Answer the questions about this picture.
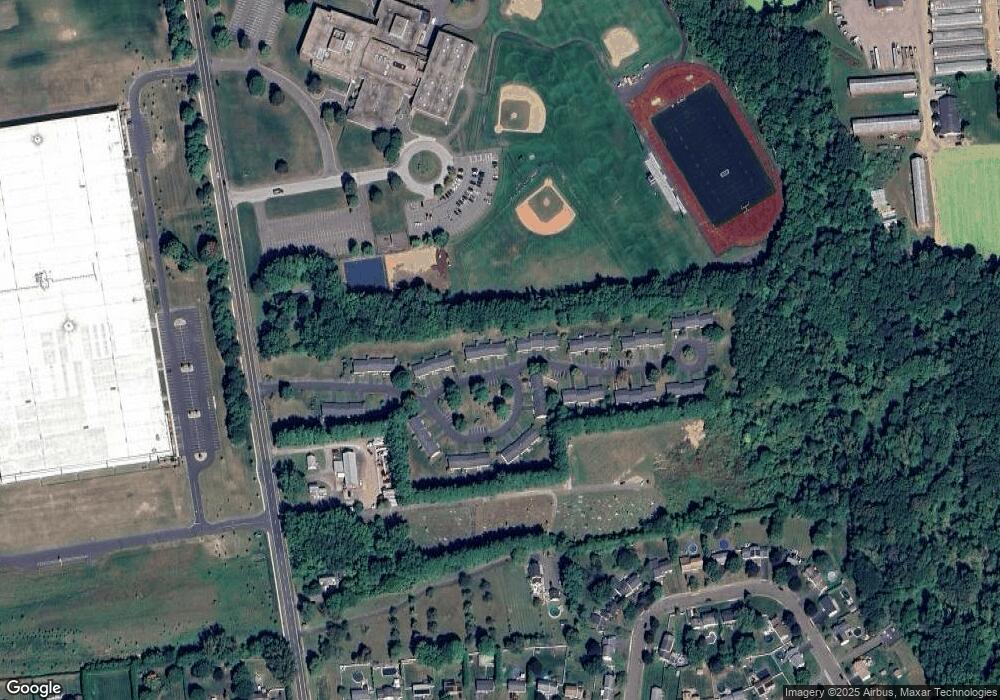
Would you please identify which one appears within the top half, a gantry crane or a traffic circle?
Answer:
traffic circle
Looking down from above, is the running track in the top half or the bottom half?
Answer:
top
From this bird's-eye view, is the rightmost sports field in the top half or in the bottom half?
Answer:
top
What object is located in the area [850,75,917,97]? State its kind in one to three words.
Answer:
shed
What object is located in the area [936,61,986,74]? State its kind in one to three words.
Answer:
greenhouse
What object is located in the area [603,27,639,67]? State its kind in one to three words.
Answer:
baseball field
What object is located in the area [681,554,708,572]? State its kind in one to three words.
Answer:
house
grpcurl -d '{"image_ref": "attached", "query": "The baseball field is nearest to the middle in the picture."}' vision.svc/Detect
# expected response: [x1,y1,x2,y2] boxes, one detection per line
[516,178,575,235]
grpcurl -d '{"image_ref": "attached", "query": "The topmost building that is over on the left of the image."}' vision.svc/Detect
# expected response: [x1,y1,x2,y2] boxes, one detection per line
[300,0,477,132]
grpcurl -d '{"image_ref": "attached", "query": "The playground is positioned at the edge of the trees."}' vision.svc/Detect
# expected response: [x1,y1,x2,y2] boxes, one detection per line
[386,247,449,296]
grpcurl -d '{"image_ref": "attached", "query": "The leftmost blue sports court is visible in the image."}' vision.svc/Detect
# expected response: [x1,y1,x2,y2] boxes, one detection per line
[344,257,388,293]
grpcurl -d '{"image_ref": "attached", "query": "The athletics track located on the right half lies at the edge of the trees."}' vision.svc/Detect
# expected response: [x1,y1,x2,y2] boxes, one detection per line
[626,62,783,256]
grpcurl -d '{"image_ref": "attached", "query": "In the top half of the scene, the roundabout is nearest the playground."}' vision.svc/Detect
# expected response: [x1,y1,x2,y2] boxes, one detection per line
[399,140,453,193]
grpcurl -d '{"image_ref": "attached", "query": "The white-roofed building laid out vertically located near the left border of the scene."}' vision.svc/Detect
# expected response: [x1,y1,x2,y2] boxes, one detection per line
[0,110,175,482]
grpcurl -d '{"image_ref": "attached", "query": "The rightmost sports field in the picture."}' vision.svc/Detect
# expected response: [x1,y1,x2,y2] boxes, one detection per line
[650,83,778,226]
